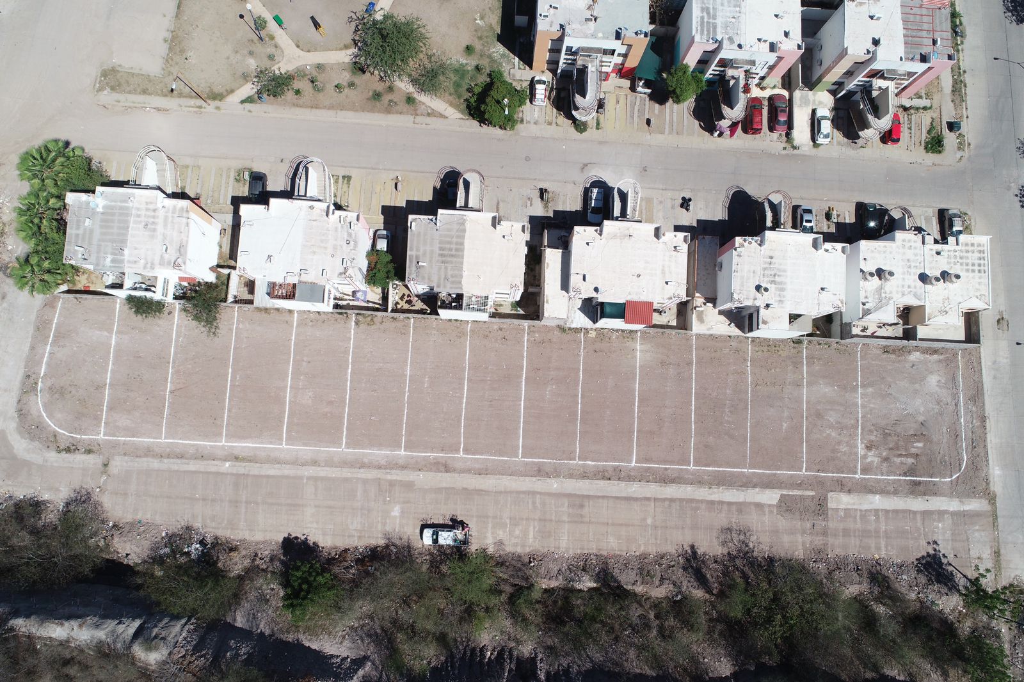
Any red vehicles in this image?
Yes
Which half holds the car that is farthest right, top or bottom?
top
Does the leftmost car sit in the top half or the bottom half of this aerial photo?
top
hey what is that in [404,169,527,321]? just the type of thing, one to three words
building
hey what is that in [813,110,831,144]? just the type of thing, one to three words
car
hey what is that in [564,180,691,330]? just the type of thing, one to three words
building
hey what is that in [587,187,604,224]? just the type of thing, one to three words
car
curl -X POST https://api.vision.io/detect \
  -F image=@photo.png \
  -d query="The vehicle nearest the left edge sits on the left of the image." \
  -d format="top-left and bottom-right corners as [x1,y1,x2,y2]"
[248,168,268,205]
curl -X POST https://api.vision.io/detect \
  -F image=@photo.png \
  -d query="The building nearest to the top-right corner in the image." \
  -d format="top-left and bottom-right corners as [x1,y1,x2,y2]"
[813,0,957,138]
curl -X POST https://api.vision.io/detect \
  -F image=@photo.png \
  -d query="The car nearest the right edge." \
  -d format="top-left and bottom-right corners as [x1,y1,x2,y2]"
[942,207,964,243]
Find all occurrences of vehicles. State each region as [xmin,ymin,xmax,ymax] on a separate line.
[634,64,651,98]
[769,96,788,133]
[423,527,468,548]
[745,98,764,135]
[813,110,831,144]
[942,207,964,243]
[374,224,391,256]
[444,172,461,207]
[587,187,604,224]
[882,116,900,145]
[797,201,816,235]
[532,76,548,107]
[248,168,268,205]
